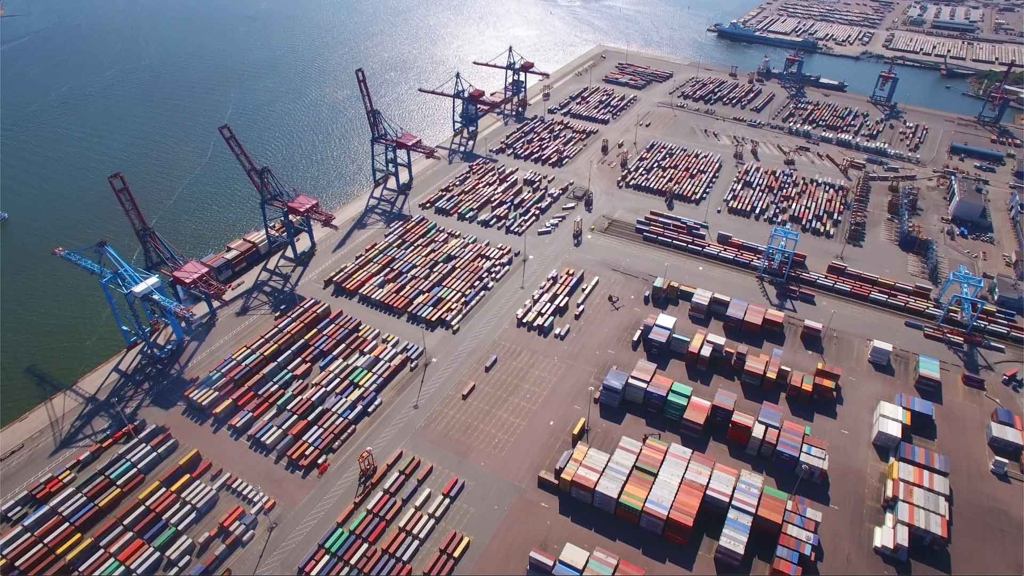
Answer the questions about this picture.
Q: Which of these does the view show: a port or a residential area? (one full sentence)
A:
What you see here is a port.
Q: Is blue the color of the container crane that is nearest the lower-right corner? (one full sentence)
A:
Yes, the container crane that is nearest the lower-right corner is indeed blue.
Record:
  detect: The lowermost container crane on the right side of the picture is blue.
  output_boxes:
[937,257,987,333]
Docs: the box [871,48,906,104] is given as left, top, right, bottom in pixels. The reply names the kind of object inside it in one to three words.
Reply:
crane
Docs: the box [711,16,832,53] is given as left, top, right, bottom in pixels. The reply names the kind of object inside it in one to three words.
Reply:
ship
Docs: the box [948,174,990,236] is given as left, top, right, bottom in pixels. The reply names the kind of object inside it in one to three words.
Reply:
building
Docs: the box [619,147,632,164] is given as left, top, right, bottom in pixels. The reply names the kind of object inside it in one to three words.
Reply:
vehicle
